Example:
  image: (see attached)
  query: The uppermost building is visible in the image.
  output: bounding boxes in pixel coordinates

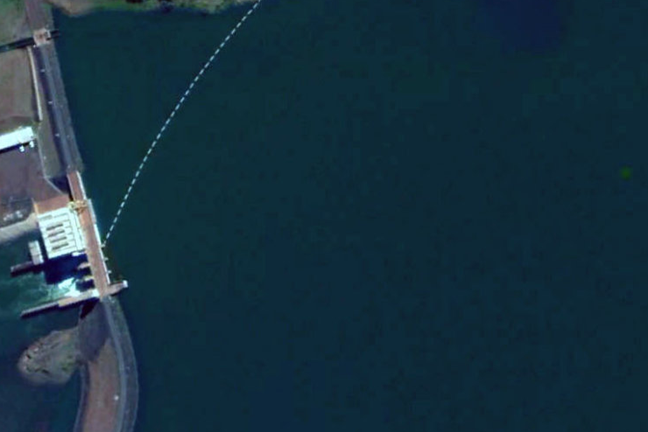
[0,126,38,150]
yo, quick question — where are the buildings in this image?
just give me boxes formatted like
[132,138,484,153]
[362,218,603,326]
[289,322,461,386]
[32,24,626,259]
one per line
[0,126,38,150]
[32,196,89,257]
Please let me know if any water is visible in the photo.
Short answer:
Yes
